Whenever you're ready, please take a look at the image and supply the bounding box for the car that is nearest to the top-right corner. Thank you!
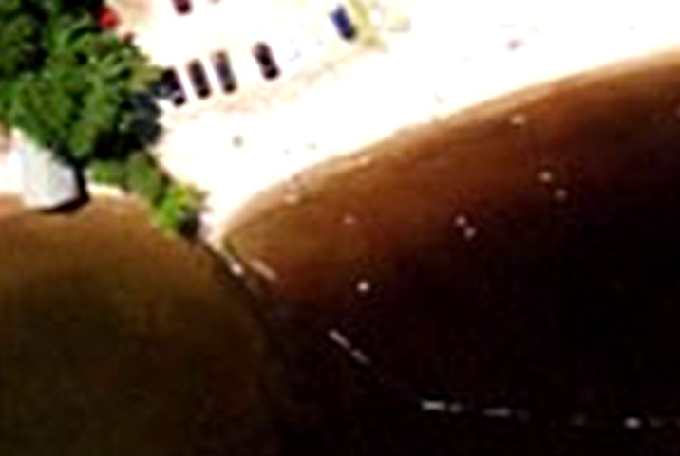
[329,1,355,43]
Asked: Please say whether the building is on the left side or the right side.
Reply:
left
